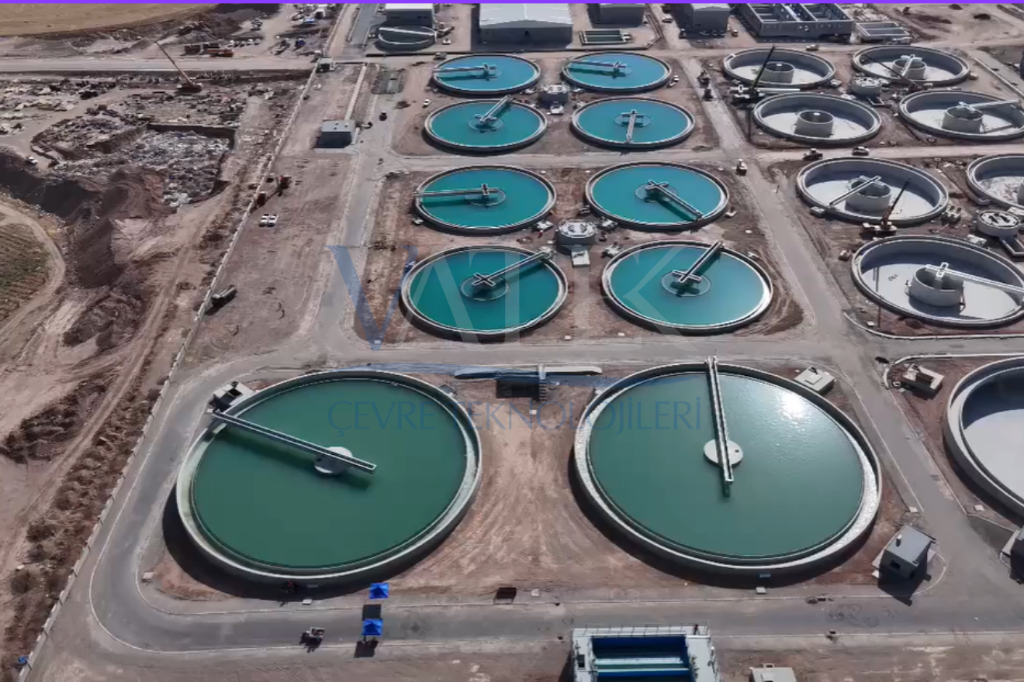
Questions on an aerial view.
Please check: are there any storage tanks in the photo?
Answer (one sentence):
Yes, the image includes a storage tank.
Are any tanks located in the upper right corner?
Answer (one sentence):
Yes, the scene does show a tank in the upper right corner.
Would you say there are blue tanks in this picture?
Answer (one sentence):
Yes, you can see a blue tank in this photo.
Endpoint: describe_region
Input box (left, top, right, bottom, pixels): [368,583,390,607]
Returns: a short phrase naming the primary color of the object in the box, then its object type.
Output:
blue gazebo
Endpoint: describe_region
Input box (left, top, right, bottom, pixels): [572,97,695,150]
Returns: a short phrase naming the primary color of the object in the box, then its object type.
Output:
blue storage tank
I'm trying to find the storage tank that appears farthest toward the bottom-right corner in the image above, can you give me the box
[943,356,1024,523]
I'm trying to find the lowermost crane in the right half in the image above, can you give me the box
[860,182,909,235]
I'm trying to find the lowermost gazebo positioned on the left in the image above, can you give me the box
[361,618,385,642]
